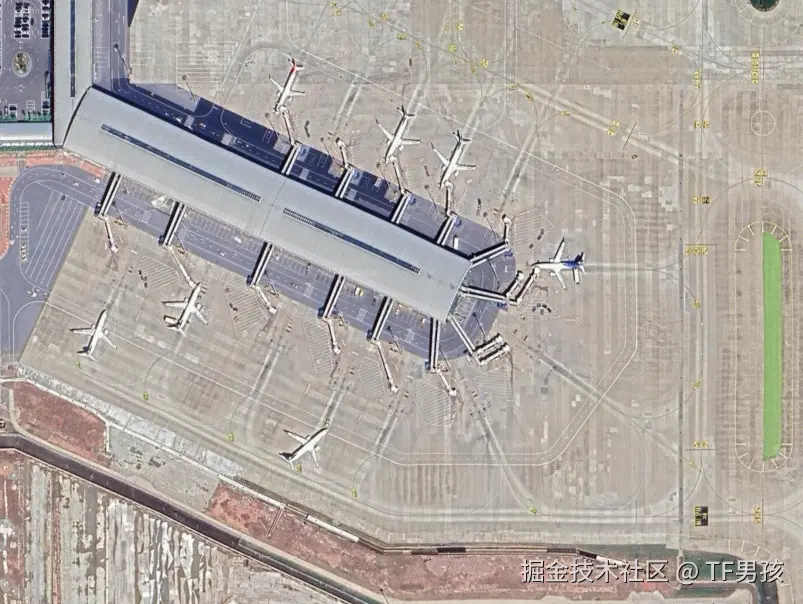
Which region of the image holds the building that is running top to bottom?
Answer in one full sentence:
The building that is running top to bottom sits in the top left section of the image.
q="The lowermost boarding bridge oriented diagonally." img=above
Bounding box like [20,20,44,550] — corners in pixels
[449,315,511,366]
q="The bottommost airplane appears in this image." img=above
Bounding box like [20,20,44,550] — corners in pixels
[281,429,328,471]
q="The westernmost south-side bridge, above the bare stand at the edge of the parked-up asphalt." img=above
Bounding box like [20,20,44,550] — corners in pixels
[95,173,124,253]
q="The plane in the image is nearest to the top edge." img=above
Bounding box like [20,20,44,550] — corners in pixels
[265,60,311,111]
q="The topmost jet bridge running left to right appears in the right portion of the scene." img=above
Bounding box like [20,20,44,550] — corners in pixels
[459,267,540,309]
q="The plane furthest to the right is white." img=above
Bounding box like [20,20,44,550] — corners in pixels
[532,238,586,290]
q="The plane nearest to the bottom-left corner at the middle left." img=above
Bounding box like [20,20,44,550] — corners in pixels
[70,310,117,360]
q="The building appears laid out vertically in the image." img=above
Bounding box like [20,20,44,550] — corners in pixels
[53,0,92,146]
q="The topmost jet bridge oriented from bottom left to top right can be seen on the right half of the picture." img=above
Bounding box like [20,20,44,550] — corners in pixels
[470,217,512,269]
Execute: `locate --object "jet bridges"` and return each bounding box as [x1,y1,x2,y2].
[336,139,360,200]
[159,202,197,289]
[437,181,461,246]
[246,241,277,313]
[279,104,306,176]
[318,273,347,353]
[449,315,511,366]
[95,173,124,253]
[390,155,415,225]
[424,317,456,395]
[366,297,398,392]
[459,267,540,309]
[470,217,512,269]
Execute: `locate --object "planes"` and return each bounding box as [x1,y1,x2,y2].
[532,238,586,290]
[281,429,328,471]
[265,60,311,111]
[70,310,117,360]
[374,107,423,162]
[162,284,209,334]
[428,133,480,188]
